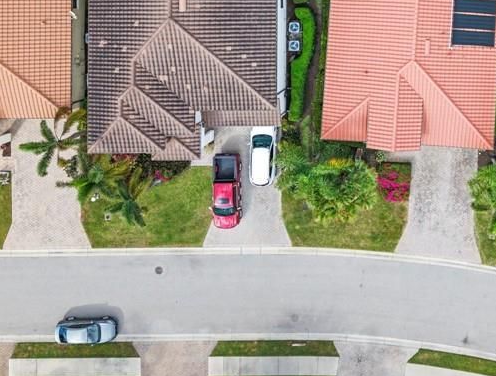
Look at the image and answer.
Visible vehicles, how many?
3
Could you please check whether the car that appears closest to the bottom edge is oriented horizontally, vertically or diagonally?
horizontally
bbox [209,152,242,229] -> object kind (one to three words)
truck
